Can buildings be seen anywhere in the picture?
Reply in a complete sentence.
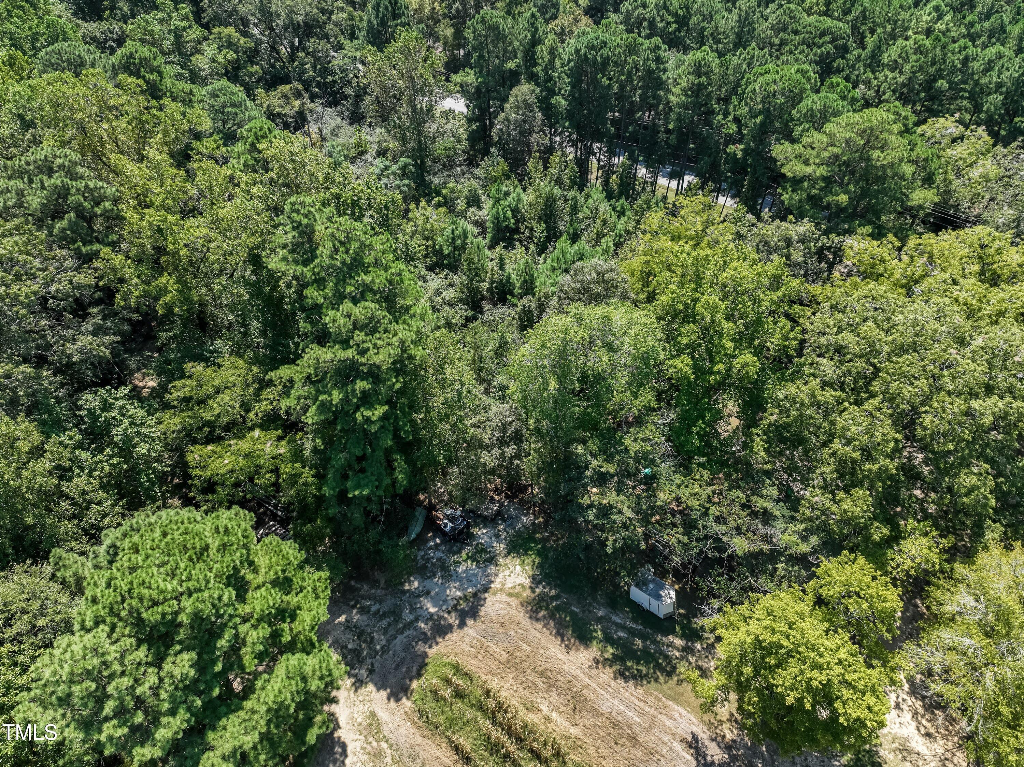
No, there's no building here.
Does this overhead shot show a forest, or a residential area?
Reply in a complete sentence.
The area seen from above is a forest.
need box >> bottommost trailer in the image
[630,569,686,621]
